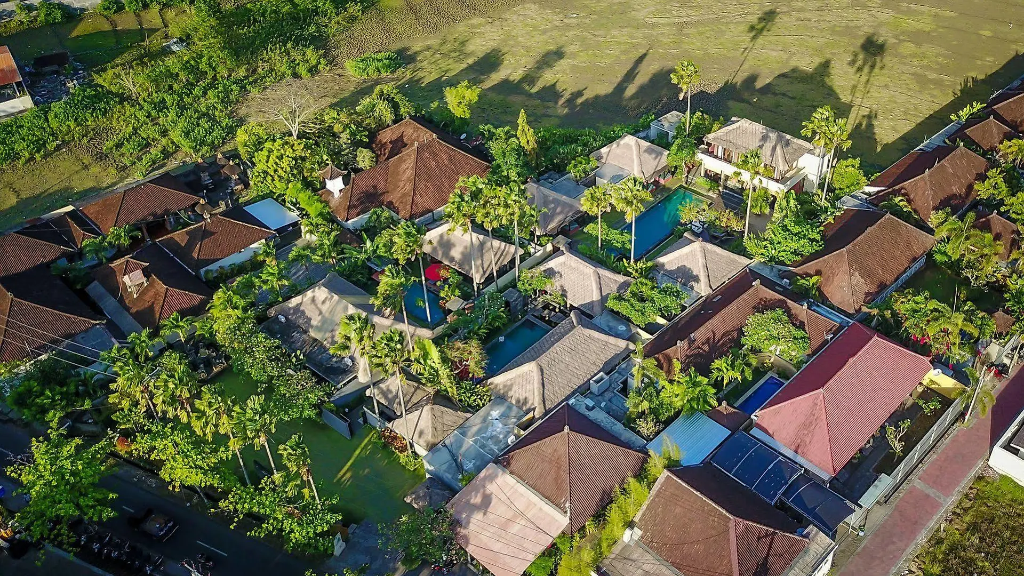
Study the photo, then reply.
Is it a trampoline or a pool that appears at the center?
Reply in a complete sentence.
What appears at the center is a pool.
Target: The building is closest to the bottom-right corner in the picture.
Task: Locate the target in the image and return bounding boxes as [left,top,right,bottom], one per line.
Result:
[979,405,1024,490]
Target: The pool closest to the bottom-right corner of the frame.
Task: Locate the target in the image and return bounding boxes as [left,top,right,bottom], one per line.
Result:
[735,371,788,415]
